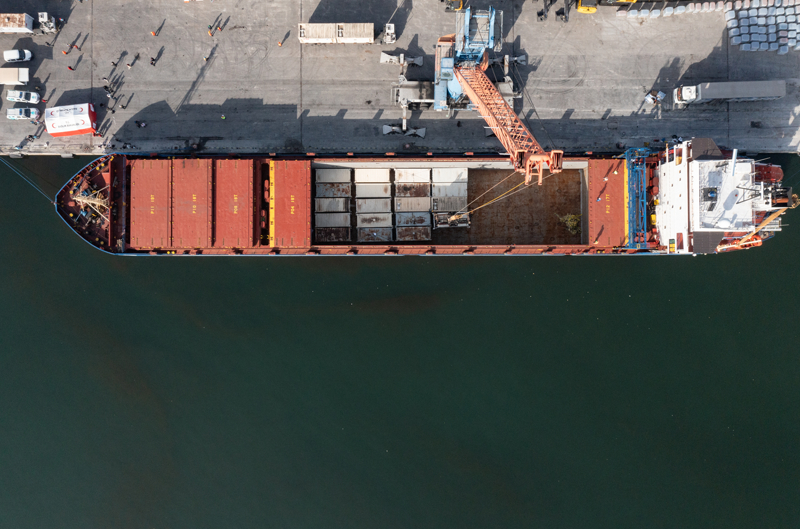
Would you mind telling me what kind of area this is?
port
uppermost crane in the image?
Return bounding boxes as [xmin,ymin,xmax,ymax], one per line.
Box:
[383,2,563,188]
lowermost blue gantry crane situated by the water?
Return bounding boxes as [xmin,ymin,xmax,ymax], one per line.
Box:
[614,144,659,252]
